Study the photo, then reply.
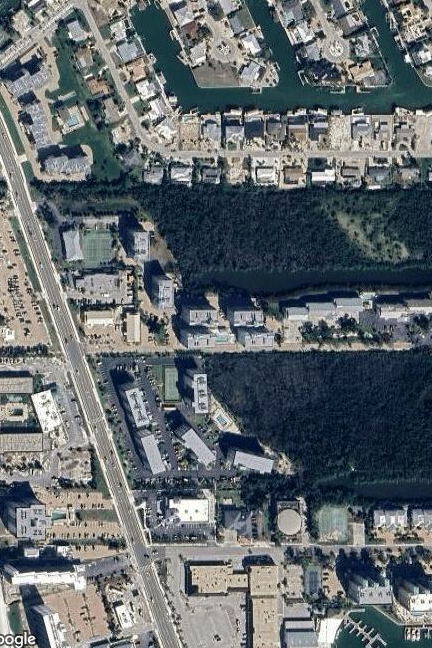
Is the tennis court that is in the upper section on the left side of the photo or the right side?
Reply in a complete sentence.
You can find the tennis court that is in the upper section on the left side of the picture.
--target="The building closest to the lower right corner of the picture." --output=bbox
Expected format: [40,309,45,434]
[396,575,432,612]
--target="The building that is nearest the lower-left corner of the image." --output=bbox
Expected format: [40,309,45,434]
[33,604,71,648]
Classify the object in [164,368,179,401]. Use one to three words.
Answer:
tennis court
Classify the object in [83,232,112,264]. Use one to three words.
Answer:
tennis court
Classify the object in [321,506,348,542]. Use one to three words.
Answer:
sports court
